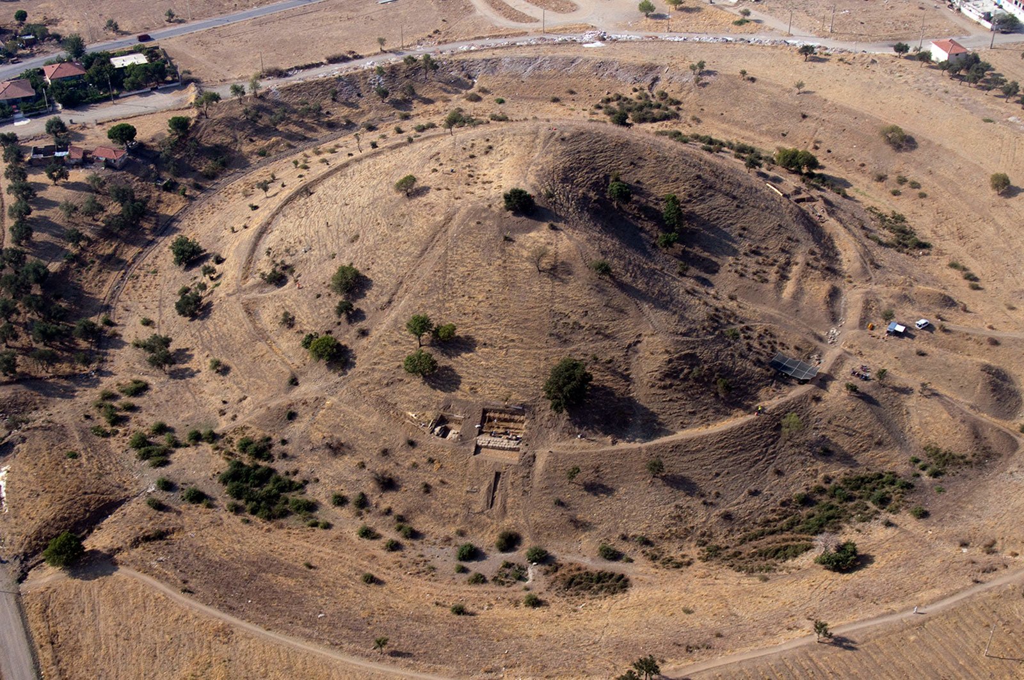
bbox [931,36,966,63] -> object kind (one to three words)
house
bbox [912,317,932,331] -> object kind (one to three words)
vehicle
